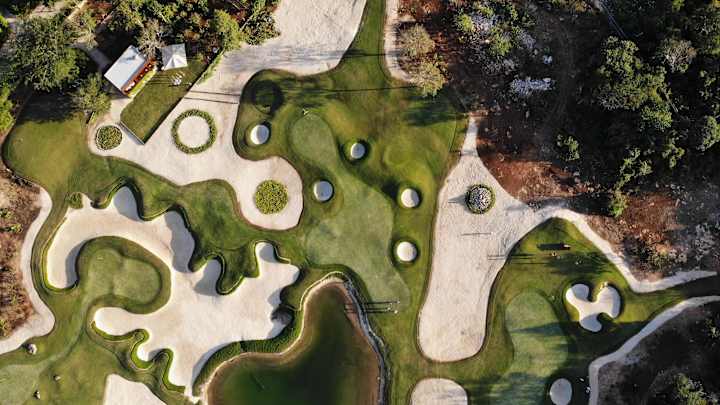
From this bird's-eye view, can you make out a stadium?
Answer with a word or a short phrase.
No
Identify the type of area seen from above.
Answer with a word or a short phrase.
golf course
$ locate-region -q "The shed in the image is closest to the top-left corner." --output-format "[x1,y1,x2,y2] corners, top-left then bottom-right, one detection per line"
[103,45,155,96]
